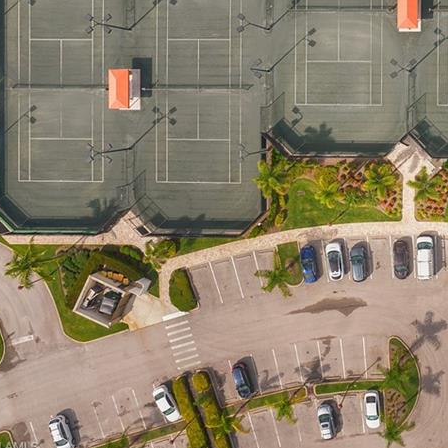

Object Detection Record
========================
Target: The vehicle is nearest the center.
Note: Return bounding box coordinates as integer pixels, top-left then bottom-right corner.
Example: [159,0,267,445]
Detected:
[299,244,318,283]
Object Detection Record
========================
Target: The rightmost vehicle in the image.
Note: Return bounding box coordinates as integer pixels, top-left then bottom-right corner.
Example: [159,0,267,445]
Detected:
[416,236,434,280]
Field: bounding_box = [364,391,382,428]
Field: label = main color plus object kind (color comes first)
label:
white car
